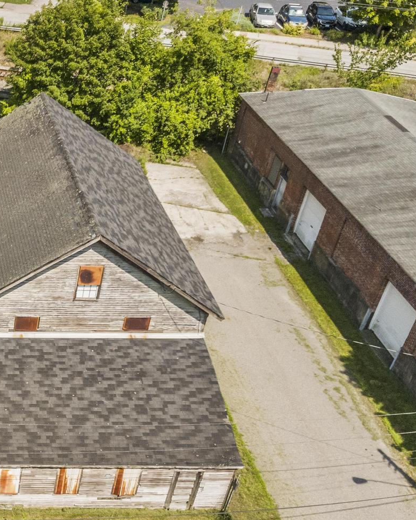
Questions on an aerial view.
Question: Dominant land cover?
buildings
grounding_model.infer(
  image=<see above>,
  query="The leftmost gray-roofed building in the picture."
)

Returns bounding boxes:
[0,89,243,509]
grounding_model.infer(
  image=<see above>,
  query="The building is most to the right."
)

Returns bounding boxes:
[222,63,416,407]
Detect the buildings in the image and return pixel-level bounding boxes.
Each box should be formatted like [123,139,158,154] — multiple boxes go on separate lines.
[222,63,416,407]
[0,89,243,509]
